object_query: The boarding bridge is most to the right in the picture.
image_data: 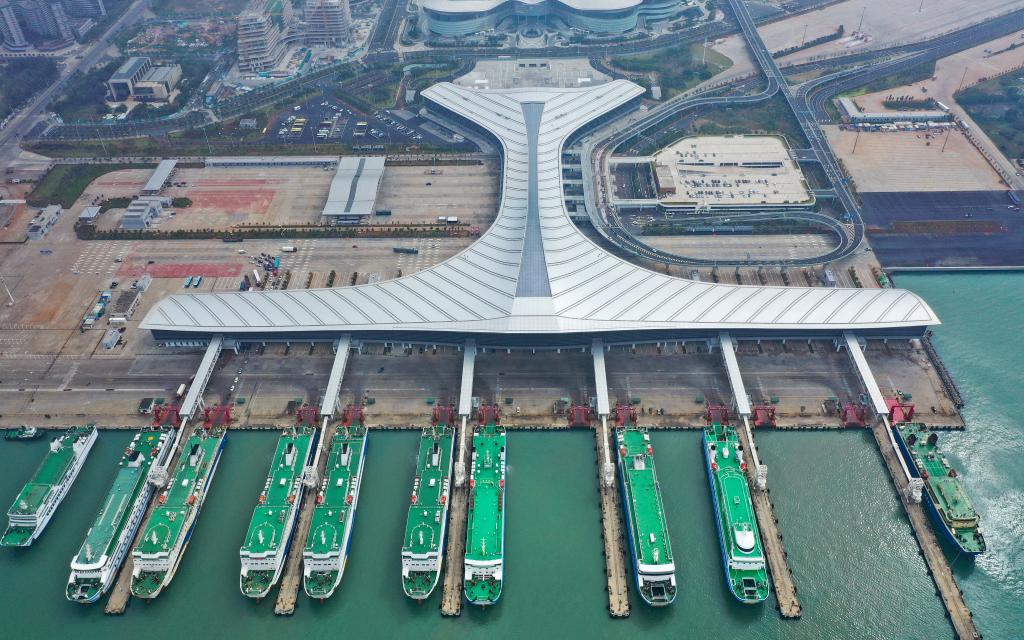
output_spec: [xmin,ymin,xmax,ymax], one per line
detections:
[843,335,925,505]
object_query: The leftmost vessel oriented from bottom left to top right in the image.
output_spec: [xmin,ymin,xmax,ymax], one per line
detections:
[0,424,100,548]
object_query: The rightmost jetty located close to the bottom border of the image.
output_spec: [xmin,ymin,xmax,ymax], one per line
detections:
[866,428,984,640]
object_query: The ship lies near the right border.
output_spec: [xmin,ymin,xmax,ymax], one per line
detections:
[895,421,982,559]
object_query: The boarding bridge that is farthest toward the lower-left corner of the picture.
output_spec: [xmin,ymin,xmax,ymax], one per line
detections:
[145,337,237,491]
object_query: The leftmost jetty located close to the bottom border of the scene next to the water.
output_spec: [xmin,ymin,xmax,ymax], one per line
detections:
[106,431,192,615]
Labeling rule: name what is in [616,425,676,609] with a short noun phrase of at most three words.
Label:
ship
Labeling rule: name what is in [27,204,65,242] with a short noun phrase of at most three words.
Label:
building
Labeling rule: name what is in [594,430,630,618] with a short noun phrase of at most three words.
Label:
pier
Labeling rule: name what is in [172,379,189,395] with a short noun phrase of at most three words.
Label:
vehicle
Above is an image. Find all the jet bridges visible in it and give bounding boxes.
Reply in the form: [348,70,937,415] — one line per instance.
[145,337,237,491]
[591,342,619,493]
[304,339,364,491]
[843,335,925,505]
[720,338,769,495]
[453,344,489,491]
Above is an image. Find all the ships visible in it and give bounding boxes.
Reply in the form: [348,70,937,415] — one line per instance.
[895,421,982,559]
[464,425,507,608]
[130,428,227,602]
[702,425,770,606]
[616,425,676,609]
[241,426,317,602]
[0,424,100,548]
[303,426,366,602]
[68,426,176,604]
[400,426,455,603]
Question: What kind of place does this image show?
port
